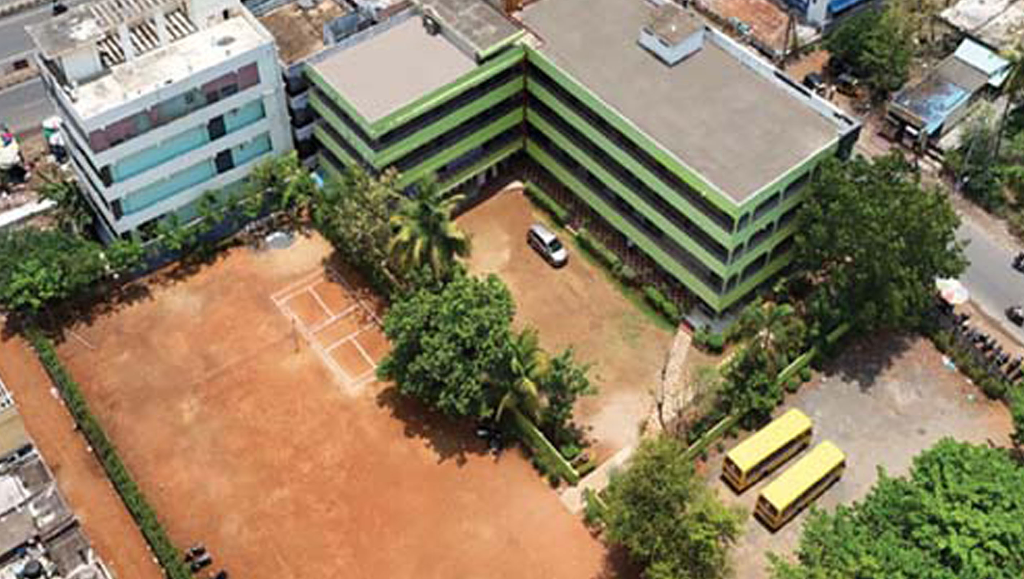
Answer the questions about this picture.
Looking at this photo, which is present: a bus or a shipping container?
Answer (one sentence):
The image shows a bus.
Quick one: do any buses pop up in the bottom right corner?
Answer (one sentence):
Yes, a bus is visible in the bottom right corner.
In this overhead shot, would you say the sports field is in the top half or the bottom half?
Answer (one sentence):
The sports field sits in the bottom half of the picture.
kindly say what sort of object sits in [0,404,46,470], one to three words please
house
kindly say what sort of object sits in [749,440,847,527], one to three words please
bus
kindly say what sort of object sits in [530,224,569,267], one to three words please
car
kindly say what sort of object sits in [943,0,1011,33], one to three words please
house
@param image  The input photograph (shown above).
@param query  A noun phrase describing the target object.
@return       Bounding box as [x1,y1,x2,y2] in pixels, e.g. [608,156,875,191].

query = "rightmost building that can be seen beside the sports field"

[304,0,862,322]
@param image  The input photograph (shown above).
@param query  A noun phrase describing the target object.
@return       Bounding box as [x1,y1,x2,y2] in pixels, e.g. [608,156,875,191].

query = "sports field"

[0,217,617,579]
